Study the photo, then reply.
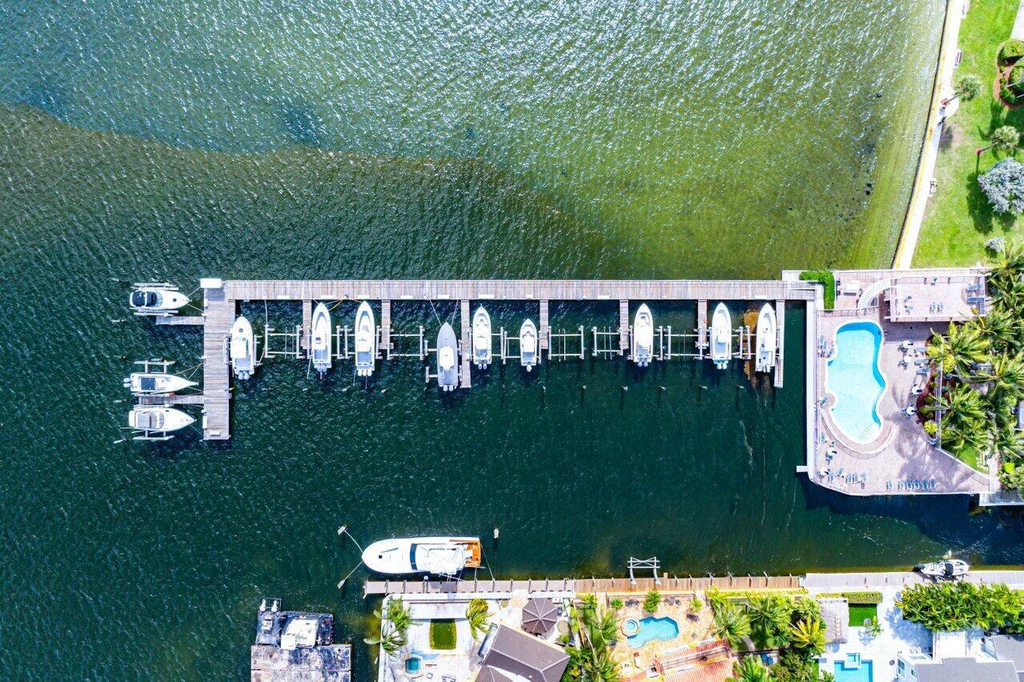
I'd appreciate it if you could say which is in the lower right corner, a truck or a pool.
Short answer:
pool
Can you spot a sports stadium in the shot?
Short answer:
No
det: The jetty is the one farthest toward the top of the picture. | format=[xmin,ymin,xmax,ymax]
[139,271,813,441]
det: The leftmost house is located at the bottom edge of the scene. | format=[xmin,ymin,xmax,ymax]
[476,617,570,682]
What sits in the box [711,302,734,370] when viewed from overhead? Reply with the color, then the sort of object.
white boat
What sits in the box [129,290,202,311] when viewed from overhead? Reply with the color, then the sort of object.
white boat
